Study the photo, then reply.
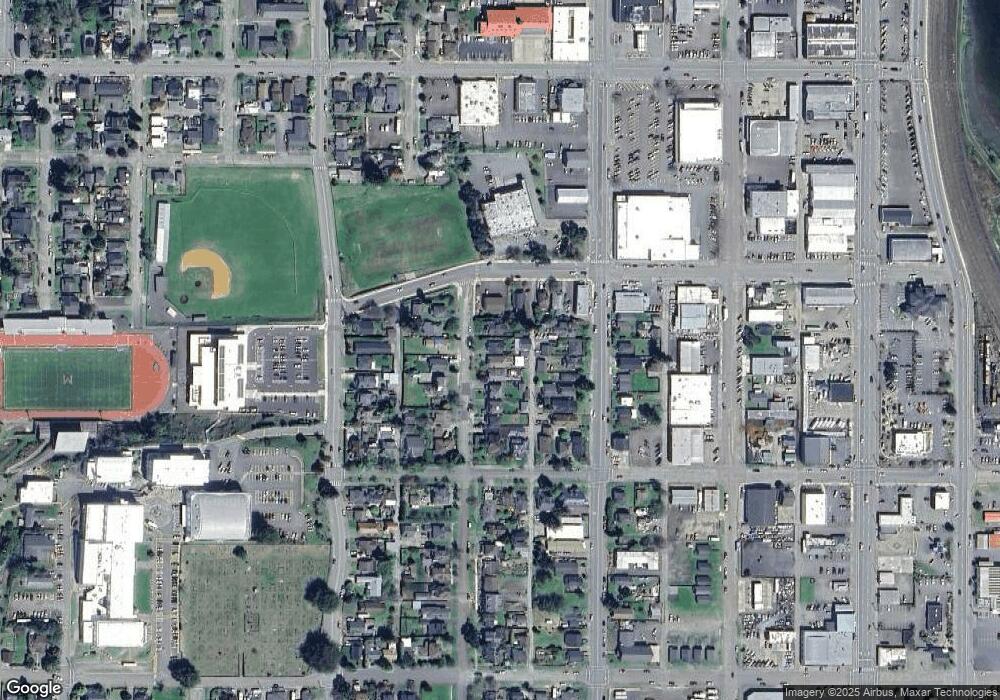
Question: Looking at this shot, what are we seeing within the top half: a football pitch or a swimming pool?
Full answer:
The feature located within the top half is a football pitch.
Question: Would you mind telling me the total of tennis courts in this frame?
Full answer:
I count no tennis courts.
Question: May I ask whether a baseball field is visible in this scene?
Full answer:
Yes, the picture does show a baseball field.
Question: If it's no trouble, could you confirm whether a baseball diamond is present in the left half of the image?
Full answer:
Yes, you'll find a baseball diamond in the left half of the image.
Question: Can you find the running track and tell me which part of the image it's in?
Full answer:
The running track is located in the left region of the scene.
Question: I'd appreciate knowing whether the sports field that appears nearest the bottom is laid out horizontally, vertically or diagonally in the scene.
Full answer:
I'd say the sports field that appears nearest the bottom is aligned horizontally in the picture.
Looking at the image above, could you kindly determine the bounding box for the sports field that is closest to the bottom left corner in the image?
[3,347,134,410]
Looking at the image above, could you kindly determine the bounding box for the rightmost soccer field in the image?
[334,185,479,298]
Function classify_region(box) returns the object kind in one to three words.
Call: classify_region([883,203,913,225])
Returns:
house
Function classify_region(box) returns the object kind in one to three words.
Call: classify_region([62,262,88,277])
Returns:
house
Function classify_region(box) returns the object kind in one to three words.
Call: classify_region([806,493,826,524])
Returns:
building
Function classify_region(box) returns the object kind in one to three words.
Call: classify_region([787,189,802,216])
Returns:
building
